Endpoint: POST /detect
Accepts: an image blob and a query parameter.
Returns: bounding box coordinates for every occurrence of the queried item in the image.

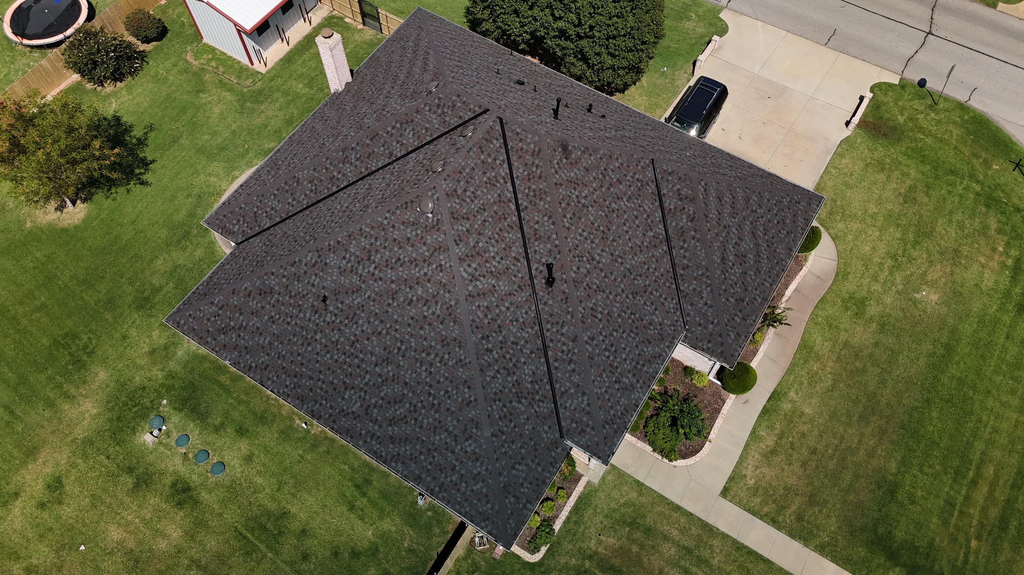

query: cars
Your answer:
[662,70,729,139]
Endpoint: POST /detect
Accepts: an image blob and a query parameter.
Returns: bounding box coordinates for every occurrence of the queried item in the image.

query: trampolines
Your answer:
[4,0,95,55]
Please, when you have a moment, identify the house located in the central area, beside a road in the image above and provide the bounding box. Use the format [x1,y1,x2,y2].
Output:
[163,5,825,553]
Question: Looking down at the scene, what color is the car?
black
